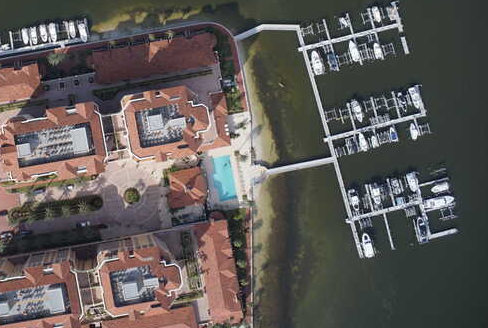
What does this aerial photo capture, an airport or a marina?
marina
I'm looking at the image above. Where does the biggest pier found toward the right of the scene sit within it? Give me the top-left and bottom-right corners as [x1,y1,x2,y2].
[232,3,459,258]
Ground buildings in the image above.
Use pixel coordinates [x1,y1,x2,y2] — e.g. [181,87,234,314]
[2,97,108,182]
[0,244,84,328]
[99,240,182,316]
[0,64,42,102]
[121,82,210,158]
[193,218,244,324]
[94,34,220,84]
[195,91,231,155]
[169,167,209,223]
